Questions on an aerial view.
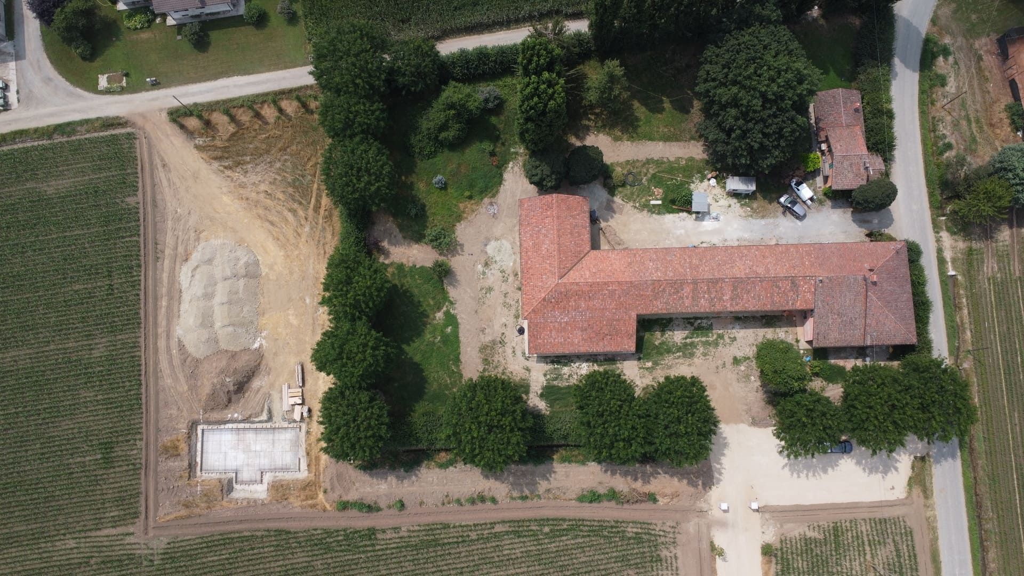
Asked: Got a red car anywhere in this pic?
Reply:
No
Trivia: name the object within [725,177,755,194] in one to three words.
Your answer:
shed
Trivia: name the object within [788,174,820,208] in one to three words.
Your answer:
truck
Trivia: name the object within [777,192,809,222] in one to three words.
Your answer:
car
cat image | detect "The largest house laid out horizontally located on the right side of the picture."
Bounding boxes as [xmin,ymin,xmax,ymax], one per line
[519,193,917,356]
